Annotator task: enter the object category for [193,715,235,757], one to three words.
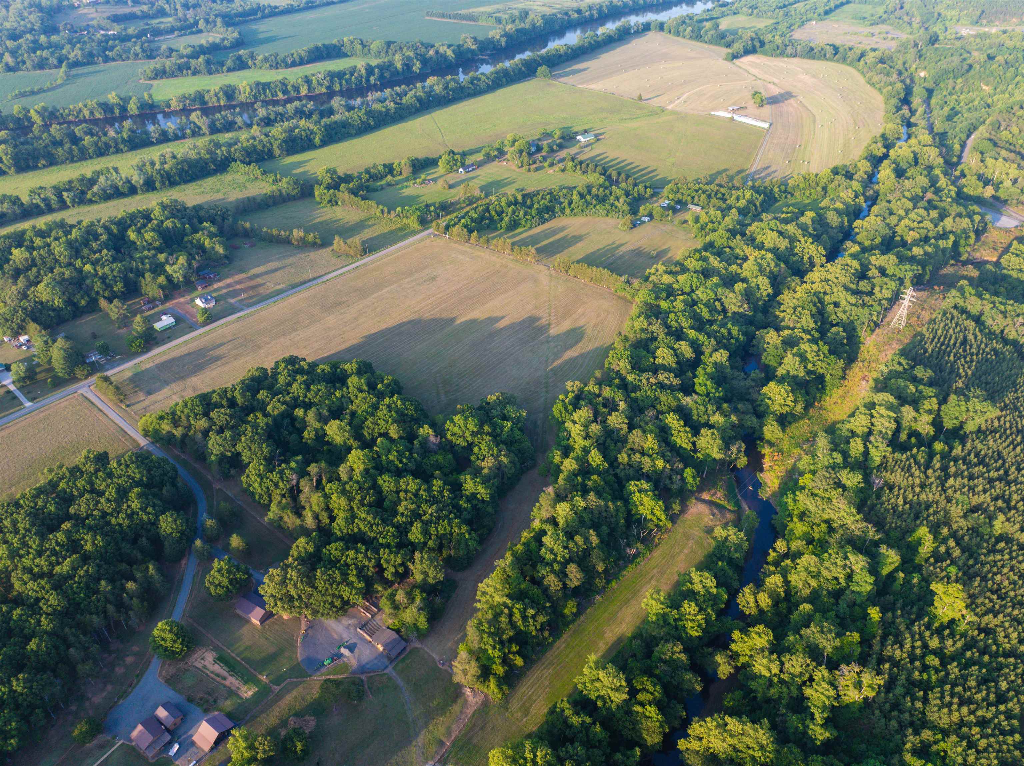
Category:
barn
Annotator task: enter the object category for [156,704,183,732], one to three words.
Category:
house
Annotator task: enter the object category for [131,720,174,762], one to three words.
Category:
house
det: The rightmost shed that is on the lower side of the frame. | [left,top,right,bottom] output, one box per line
[363,625,413,671]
